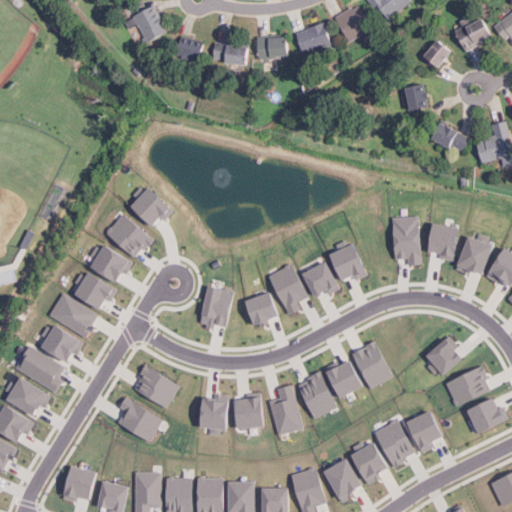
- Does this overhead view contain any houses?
Yes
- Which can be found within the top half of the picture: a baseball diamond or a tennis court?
baseball diamond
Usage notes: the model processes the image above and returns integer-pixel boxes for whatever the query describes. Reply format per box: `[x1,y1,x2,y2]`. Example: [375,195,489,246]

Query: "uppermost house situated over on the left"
[126,8,164,42]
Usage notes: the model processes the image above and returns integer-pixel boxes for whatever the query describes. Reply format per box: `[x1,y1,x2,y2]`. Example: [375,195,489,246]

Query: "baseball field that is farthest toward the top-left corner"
[0,24,38,89]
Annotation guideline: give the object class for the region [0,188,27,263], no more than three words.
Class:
baseball field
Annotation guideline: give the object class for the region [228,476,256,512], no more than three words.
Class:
house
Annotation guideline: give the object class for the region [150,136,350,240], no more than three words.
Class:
pond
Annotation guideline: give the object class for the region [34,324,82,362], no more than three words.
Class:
house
